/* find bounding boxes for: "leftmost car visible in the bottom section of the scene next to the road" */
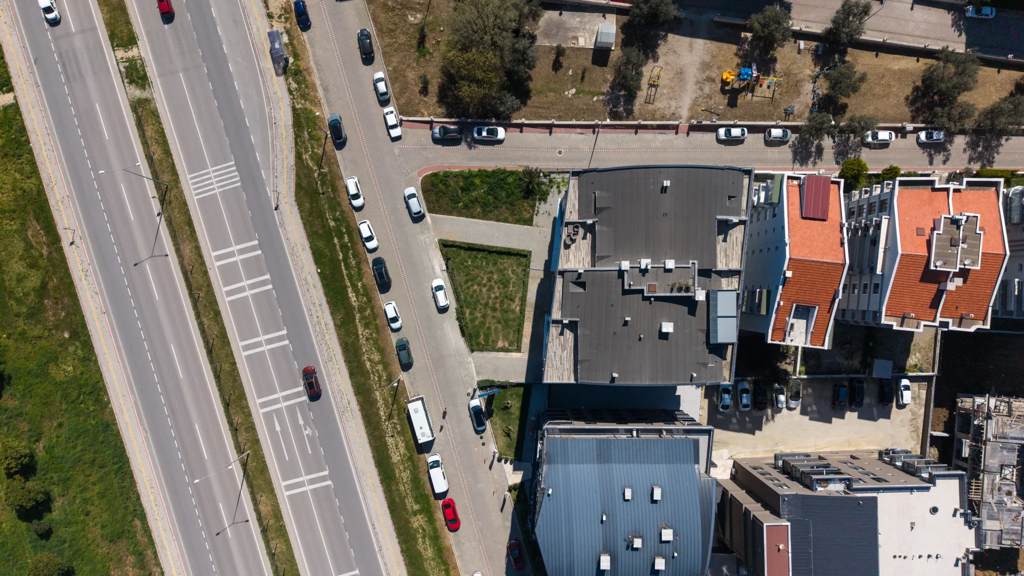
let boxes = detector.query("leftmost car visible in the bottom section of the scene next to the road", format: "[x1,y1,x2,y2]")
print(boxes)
[302,365,322,399]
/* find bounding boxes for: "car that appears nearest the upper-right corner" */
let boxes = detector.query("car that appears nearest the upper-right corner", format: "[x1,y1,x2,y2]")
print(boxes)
[963,3,997,20]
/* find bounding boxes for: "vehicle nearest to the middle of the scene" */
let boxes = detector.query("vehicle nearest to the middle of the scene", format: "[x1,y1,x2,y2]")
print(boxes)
[431,278,449,310]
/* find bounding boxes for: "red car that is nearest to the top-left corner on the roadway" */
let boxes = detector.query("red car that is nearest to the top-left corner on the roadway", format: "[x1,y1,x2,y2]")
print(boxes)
[157,0,177,21]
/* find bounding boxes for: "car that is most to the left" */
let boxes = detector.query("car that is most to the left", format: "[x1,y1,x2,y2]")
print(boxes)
[38,0,61,25]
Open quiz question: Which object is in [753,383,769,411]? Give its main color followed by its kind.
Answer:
black car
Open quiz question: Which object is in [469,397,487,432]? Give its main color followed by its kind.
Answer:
black car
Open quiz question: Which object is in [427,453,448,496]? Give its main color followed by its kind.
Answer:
white vehicle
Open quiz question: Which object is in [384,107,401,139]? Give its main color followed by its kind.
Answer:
white car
